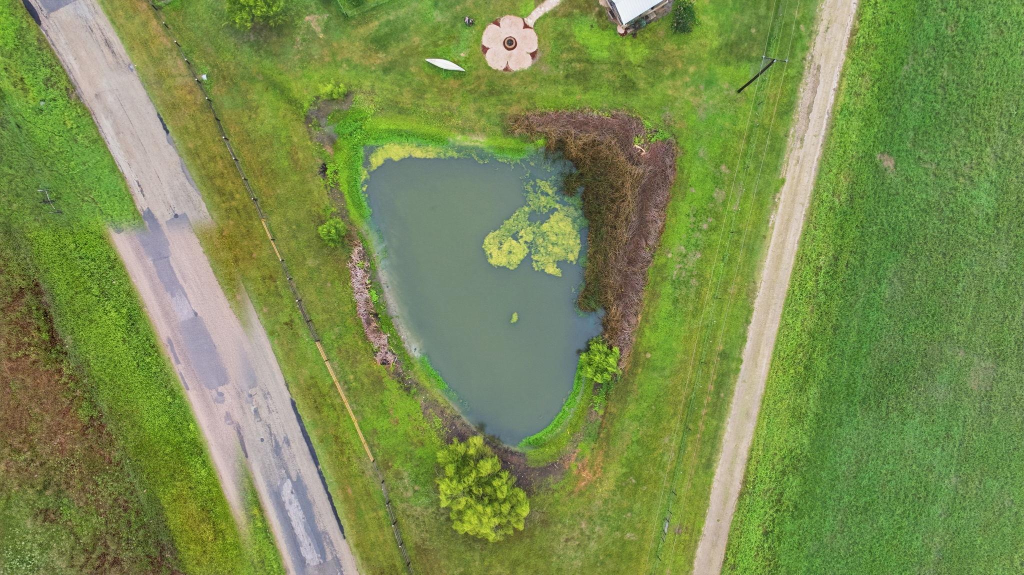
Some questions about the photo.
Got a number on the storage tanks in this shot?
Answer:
0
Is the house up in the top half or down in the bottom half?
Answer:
top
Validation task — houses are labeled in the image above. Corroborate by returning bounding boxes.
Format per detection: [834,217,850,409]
[600,0,671,33]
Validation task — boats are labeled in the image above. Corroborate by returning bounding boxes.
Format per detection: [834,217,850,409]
[426,59,465,72]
